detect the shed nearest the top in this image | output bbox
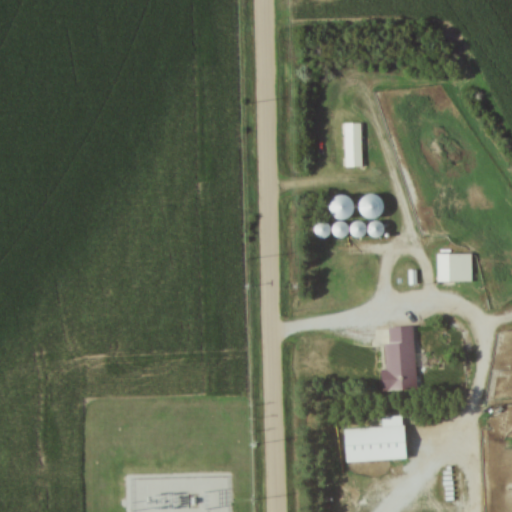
[343,122,363,167]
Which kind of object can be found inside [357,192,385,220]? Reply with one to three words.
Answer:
silo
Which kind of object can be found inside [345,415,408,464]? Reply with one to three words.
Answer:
barn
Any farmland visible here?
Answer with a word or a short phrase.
Yes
